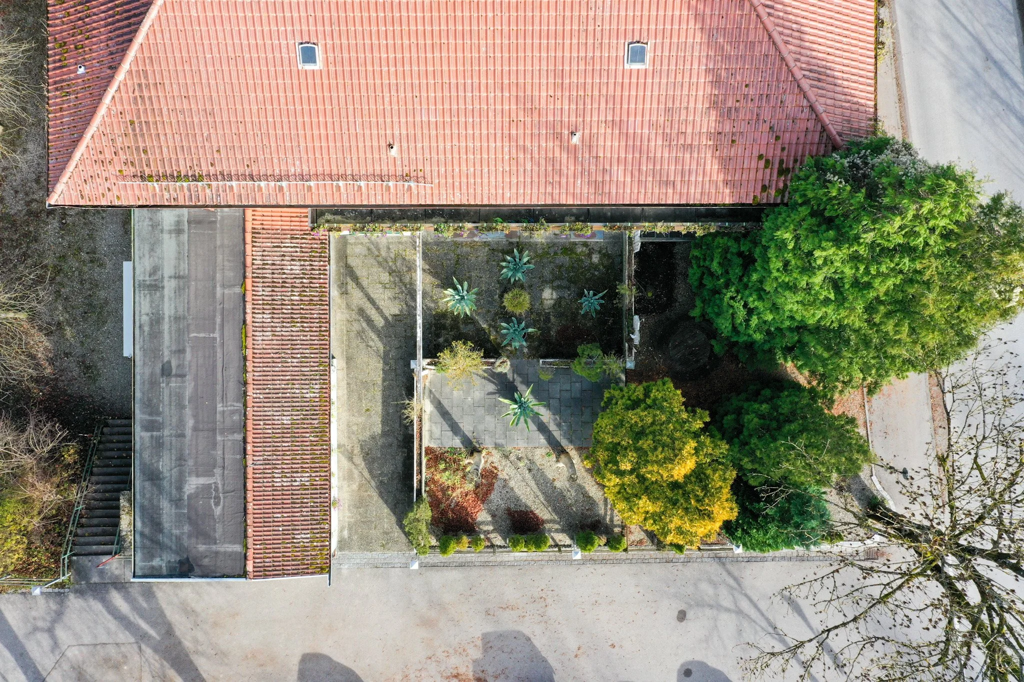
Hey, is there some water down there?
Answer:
No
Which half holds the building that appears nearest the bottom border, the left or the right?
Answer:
left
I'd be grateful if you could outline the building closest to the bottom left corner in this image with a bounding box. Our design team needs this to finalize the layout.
[130,209,341,585]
